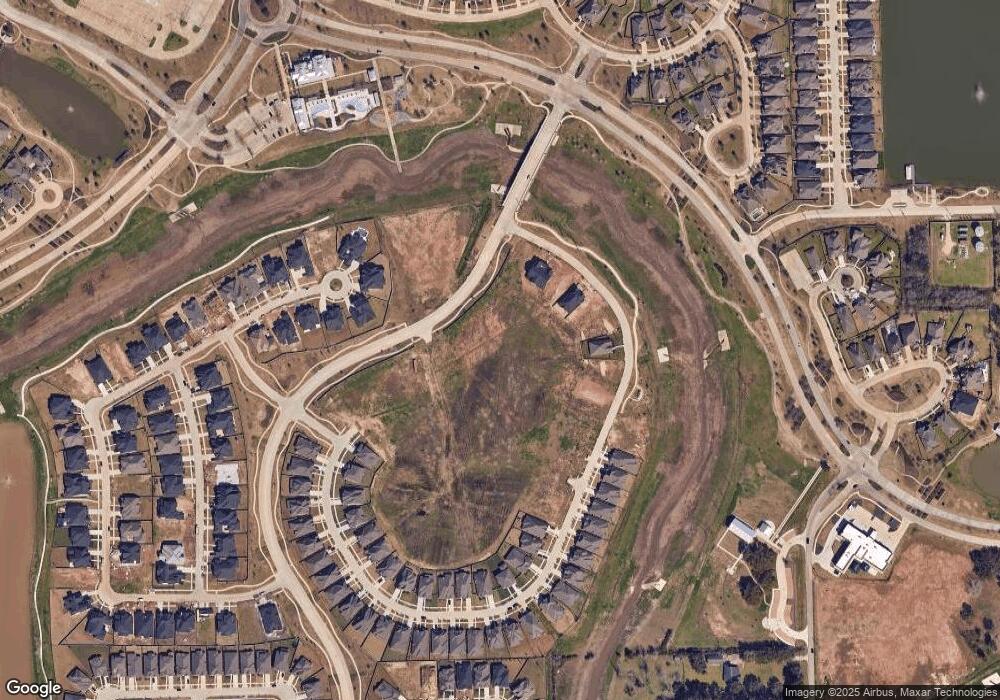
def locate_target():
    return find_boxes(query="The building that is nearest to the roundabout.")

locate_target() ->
[292,56,335,84]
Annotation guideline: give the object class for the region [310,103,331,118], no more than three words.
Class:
swimming pool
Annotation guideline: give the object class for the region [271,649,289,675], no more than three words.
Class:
house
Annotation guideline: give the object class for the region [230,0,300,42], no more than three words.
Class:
roundabout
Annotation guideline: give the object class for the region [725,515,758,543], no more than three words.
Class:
building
